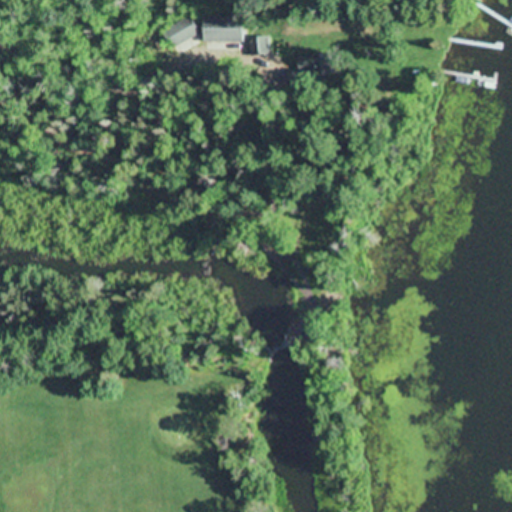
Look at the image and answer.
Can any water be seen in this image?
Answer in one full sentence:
Yes, water shows up in the scene.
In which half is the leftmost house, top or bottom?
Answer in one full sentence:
The top half of the photo is where the leftmost house is.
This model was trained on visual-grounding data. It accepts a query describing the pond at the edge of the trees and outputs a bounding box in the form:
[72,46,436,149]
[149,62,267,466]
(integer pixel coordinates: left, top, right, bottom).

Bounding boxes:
[213,264,325,512]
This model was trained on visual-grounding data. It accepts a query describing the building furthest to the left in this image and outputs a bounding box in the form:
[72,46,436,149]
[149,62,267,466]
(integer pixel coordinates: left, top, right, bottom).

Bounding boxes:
[168,15,200,44]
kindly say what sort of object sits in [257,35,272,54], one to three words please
shed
